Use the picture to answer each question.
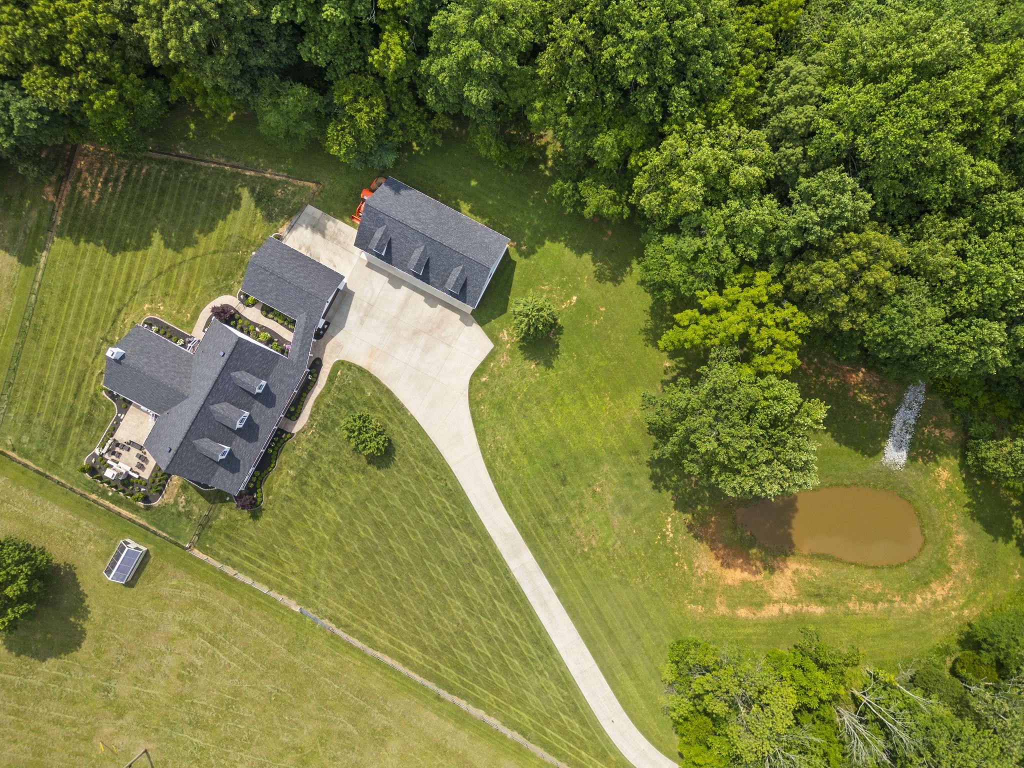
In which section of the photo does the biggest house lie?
left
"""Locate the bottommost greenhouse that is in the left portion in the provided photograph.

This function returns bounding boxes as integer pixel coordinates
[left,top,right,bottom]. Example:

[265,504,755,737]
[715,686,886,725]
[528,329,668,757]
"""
[102,538,147,585]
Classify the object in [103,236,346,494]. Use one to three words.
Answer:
house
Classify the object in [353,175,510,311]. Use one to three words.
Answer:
barn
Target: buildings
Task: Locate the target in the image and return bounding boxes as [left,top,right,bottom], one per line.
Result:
[103,236,346,494]
[353,175,510,311]
[102,538,147,585]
